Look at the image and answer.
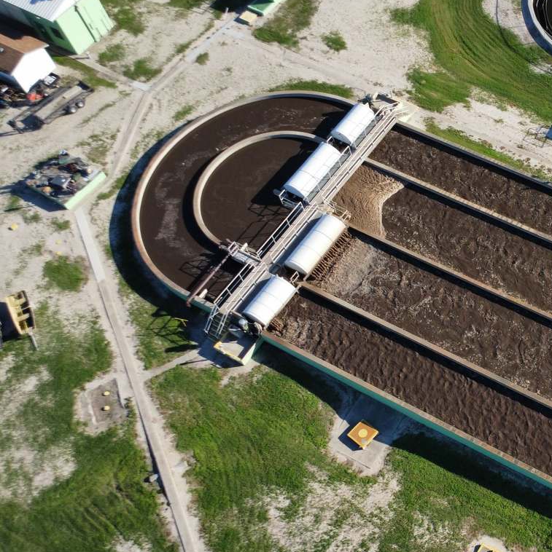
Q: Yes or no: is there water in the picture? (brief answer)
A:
Yes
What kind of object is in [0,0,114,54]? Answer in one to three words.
building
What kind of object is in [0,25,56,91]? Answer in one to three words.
shed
